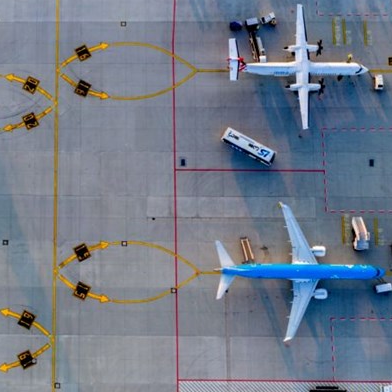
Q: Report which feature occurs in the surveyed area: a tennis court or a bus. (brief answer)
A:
bus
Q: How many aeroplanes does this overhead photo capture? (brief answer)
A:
2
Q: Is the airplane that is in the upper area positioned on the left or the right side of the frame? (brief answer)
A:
right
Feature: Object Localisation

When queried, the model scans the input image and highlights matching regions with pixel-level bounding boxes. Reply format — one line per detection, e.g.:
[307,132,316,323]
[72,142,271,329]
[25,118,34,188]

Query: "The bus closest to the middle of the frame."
[221,127,276,164]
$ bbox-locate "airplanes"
[214,201,384,341]
[227,7,368,130]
